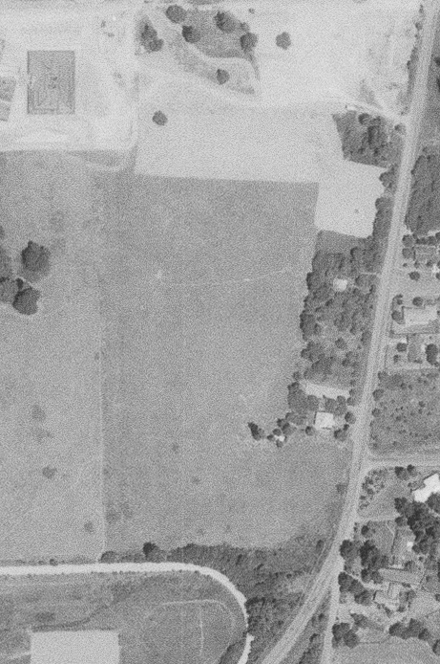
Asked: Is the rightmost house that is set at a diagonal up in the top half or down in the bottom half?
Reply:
bottom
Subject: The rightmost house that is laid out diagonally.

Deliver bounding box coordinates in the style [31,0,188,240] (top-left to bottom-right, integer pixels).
[411,475,440,503]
